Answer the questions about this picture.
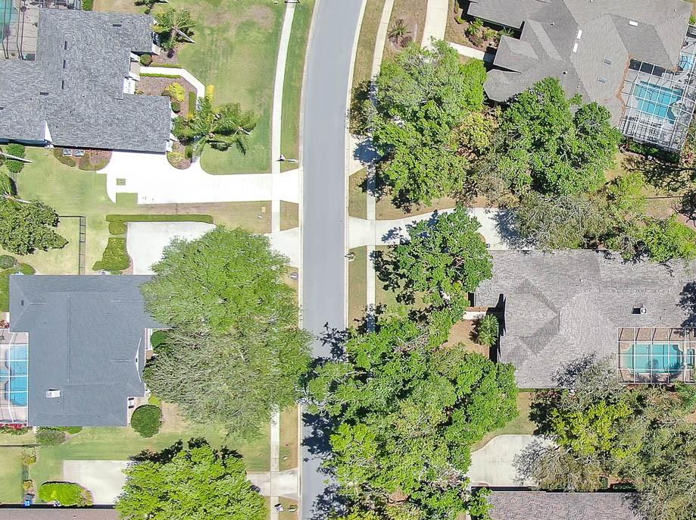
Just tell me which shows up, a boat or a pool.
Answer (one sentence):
Visible in the photo is a pool.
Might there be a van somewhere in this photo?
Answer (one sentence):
No, I find no van anywhere in the image.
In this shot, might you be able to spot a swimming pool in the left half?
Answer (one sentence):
Yes, a swimming pool appears in the left half.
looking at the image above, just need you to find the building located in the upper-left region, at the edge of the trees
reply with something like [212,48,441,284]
[0,13,176,154]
